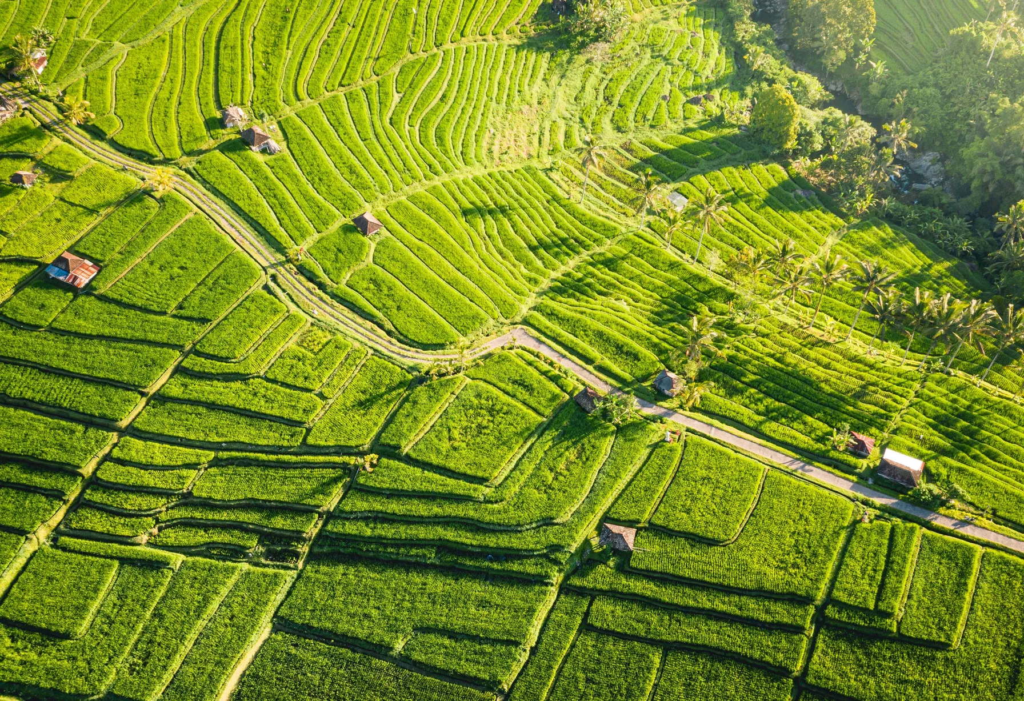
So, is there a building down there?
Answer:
Yes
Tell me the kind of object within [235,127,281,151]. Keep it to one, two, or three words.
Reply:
shed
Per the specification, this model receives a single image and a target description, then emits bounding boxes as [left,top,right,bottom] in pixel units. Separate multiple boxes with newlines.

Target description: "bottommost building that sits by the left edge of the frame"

[45,253,100,294]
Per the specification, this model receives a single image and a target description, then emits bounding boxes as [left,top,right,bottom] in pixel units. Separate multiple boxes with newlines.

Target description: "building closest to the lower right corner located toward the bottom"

[875,451,923,498]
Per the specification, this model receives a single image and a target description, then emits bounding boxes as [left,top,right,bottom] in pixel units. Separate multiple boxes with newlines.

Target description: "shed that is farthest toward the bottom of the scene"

[593,524,648,556]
